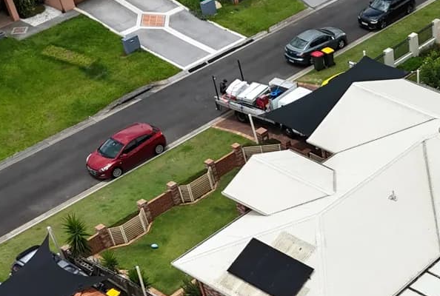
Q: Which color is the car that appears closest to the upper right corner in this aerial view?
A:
black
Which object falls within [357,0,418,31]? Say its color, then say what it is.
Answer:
black car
